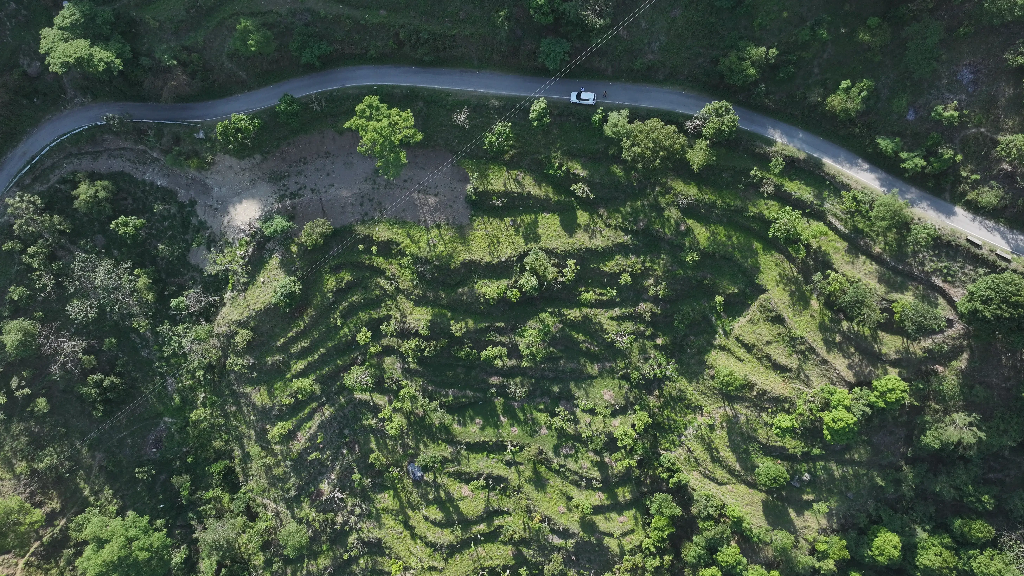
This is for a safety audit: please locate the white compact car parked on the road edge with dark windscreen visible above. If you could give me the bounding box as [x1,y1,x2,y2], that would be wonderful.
[569,91,596,107]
